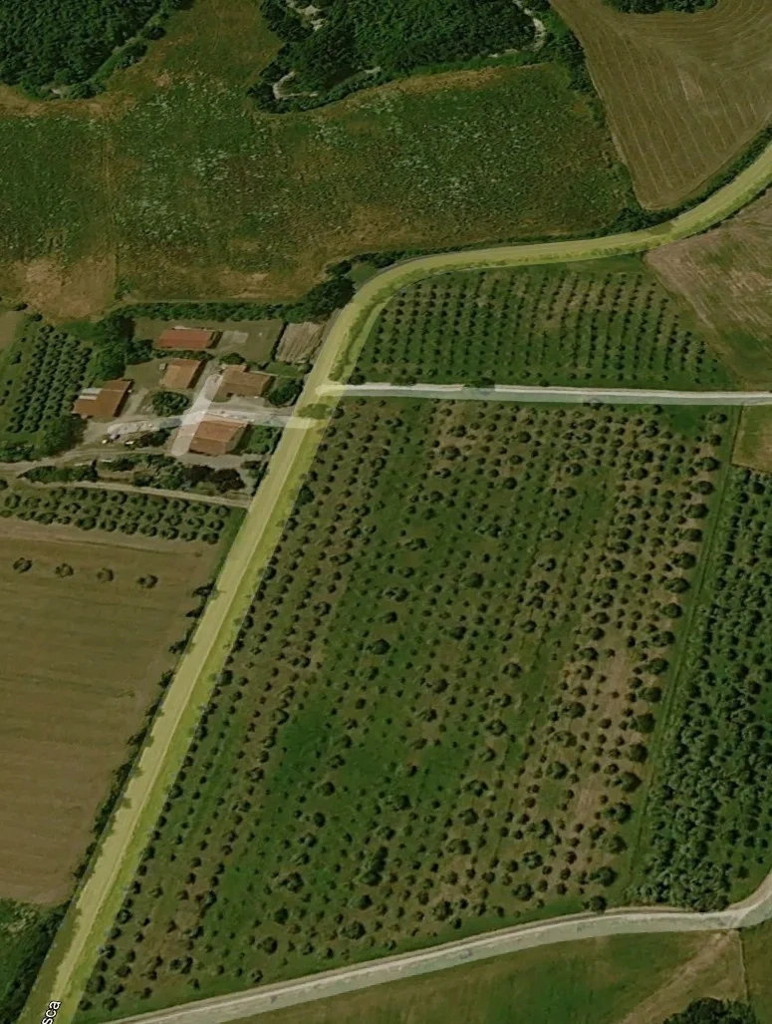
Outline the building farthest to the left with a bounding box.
[76,379,132,420]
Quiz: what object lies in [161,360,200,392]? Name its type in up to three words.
house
